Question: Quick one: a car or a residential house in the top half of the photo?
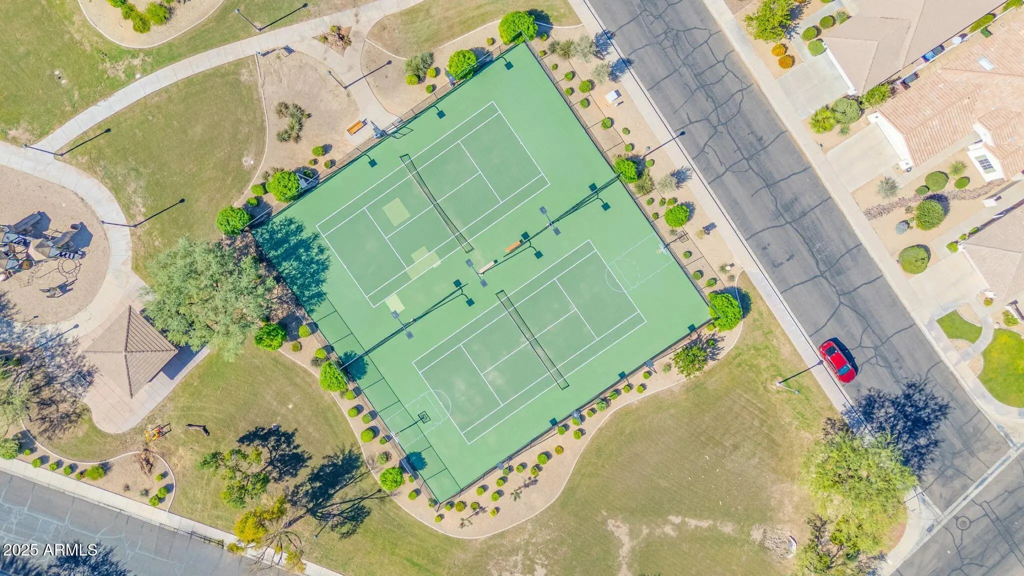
residential house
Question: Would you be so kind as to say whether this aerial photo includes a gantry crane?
No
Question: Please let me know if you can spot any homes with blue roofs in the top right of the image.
No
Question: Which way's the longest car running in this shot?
at an angle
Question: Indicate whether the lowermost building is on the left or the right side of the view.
left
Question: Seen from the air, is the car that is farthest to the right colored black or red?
red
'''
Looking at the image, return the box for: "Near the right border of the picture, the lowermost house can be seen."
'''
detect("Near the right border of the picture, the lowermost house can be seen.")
[951,202,1024,303]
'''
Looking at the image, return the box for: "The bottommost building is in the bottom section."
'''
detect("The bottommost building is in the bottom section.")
[83,305,181,398]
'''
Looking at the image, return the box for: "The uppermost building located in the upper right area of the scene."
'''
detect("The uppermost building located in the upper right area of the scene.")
[819,0,1004,97]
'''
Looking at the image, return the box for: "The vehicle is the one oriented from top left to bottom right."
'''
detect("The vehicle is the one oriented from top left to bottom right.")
[820,339,854,382]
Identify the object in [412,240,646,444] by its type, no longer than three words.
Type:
tennis court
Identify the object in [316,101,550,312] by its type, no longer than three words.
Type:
tennis court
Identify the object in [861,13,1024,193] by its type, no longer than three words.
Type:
house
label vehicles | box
[145,429,163,440]
[820,339,854,382]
